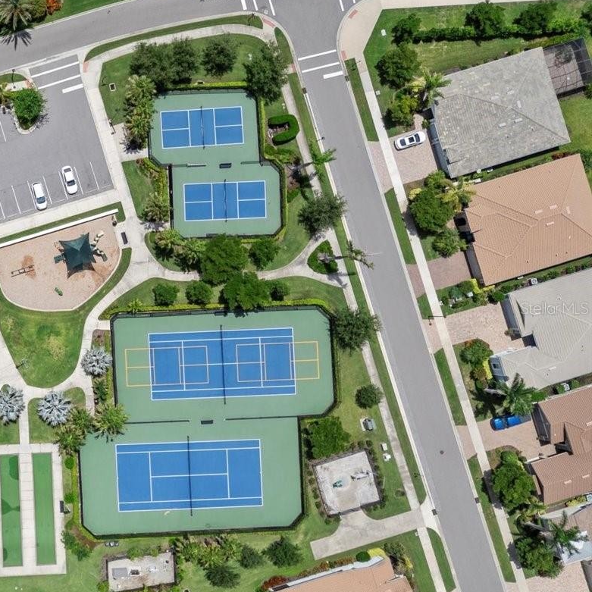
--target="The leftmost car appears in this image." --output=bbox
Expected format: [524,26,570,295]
[31,182,47,212]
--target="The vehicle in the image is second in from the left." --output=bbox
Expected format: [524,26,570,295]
[62,165,78,197]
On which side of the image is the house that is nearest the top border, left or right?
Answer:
right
